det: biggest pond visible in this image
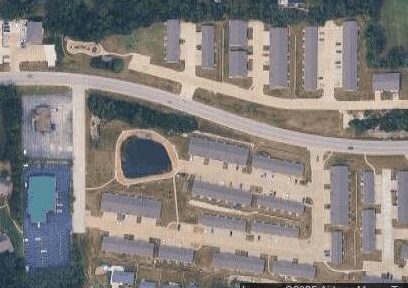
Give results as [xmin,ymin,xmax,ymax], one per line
[122,138,171,178]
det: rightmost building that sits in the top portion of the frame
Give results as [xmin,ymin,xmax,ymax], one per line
[374,73,401,92]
